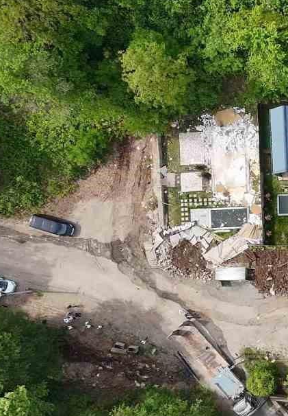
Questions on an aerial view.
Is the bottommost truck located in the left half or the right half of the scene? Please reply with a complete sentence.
The bottommost truck is on the right side of the image.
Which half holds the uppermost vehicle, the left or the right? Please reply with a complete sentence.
The uppermost vehicle is on the left side of the image.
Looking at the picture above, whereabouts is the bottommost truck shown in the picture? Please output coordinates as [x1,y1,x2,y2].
[167,322,260,416]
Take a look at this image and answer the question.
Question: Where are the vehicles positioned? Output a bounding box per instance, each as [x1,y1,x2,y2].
[167,322,260,416]
[27,212,76,237]
[0,277,17,294]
